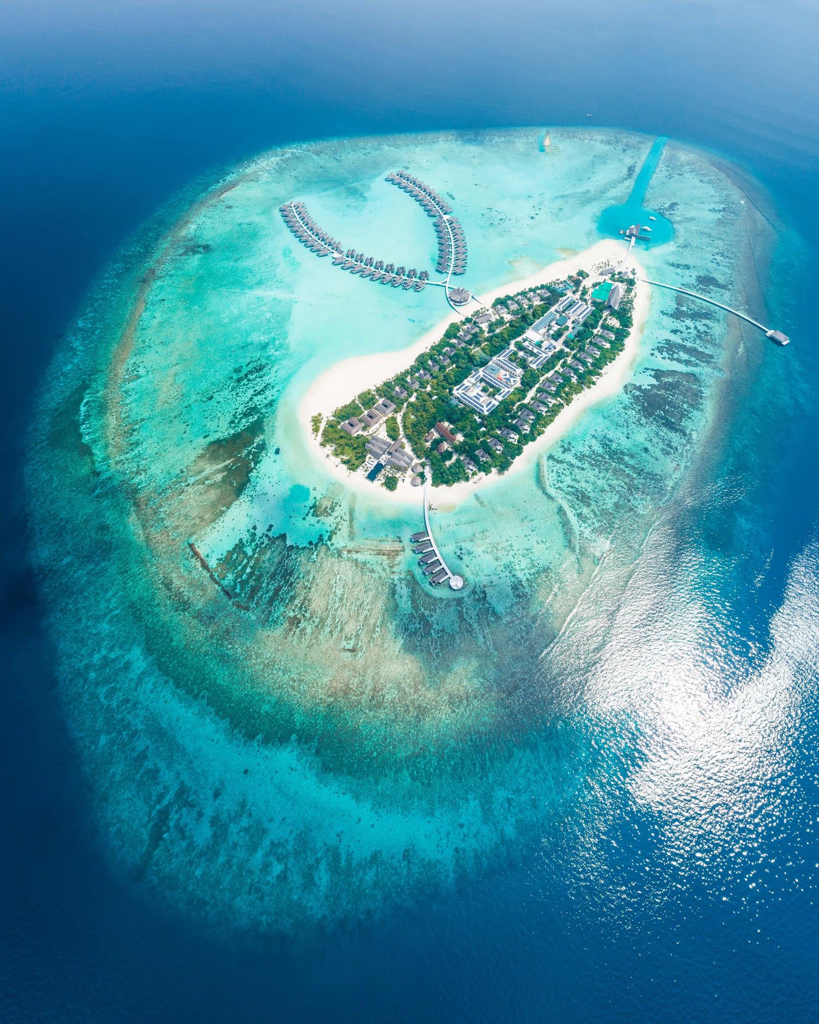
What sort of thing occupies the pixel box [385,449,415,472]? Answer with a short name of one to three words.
building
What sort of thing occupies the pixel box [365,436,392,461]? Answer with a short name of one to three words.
building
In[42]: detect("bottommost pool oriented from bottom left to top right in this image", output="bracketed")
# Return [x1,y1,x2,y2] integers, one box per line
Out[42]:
[364,460,386,484]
